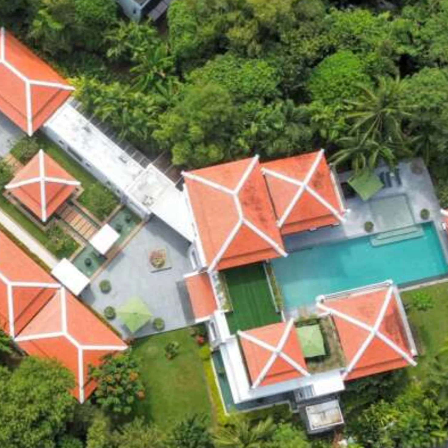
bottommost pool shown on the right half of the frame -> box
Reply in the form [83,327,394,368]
[267,217,448,316]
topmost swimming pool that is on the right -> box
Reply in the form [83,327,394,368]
[368,192,416,232]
